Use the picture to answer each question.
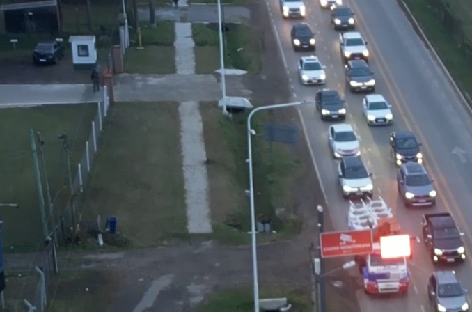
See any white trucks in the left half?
No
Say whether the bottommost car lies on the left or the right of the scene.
right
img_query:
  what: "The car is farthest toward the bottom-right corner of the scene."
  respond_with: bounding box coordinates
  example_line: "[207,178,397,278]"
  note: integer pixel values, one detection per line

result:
[425,265,468,312]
